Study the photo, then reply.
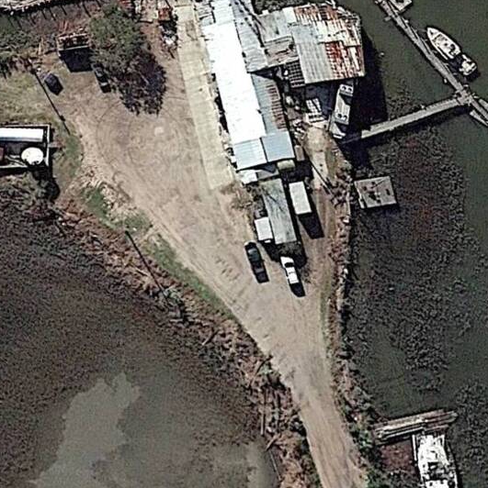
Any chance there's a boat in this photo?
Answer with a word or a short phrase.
Yes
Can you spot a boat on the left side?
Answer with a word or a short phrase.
No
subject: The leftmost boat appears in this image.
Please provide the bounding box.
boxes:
[330,80,353,139]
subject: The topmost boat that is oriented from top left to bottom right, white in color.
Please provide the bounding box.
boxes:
[426,26,460,60]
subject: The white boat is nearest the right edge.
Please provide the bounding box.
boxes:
[458,58,477,76]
